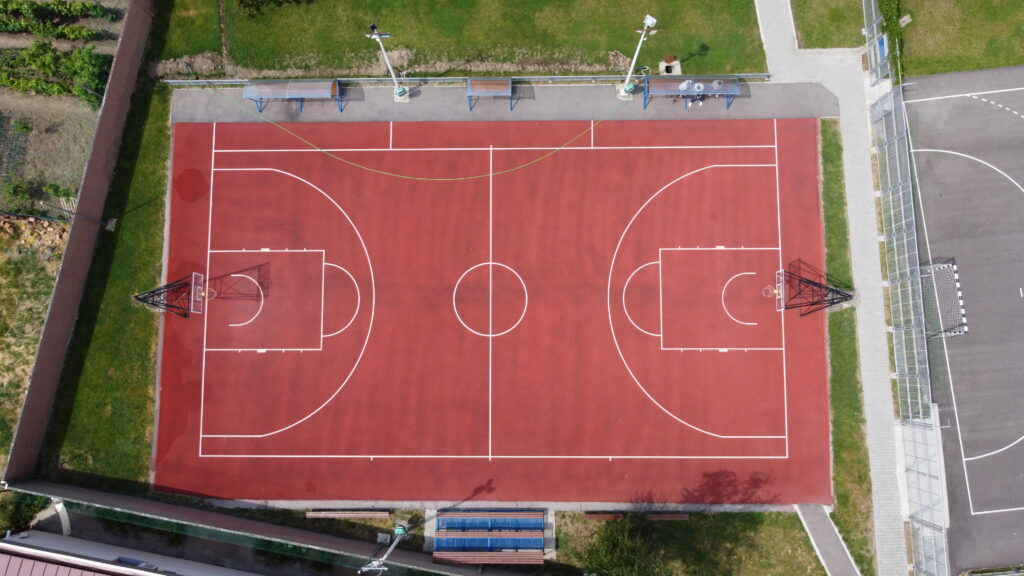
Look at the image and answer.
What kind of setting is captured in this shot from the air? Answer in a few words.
sports ground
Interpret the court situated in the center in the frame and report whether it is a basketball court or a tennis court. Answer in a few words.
basketball court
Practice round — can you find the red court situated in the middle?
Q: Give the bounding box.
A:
[152,118,833,504]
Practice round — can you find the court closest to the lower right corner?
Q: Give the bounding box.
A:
[874,66,1024,576]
